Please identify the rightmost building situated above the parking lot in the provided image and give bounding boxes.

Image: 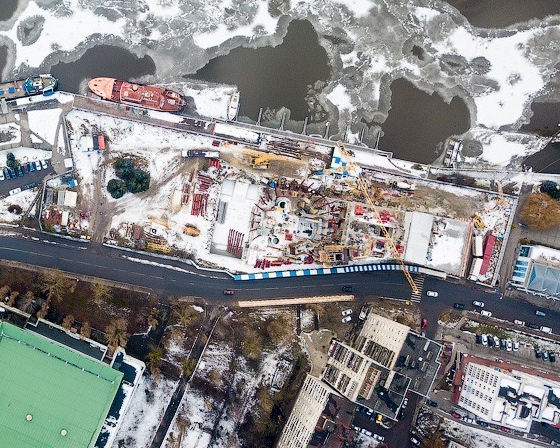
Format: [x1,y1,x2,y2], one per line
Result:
[501,244,560,301]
